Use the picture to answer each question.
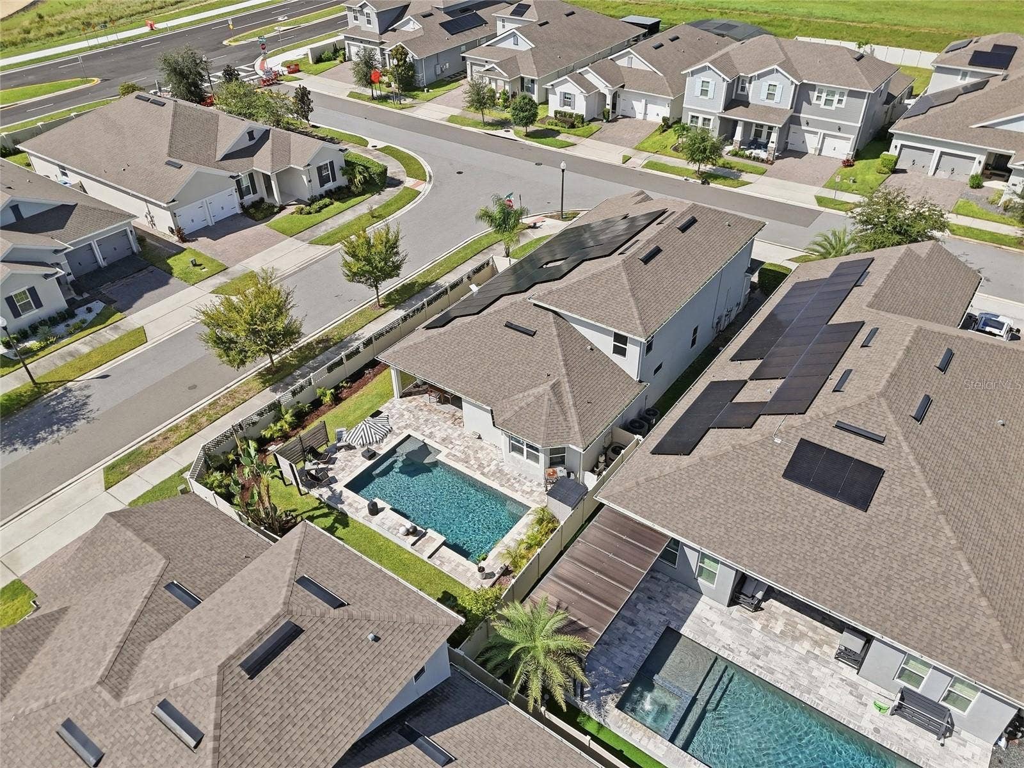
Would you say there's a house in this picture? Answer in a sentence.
Yes, looking at the shot, I can spot a house.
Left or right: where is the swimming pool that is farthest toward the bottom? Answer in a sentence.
It is on the right.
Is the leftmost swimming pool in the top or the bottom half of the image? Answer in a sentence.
The leftmost swimming pool sits in the bottom half of the picture.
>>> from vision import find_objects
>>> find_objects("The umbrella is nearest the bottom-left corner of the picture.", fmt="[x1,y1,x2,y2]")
[343,419,391,459]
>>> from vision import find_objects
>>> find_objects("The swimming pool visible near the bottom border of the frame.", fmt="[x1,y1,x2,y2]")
[606,619,938,768]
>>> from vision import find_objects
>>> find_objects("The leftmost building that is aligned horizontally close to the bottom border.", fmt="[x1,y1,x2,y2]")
[0,484,604,768]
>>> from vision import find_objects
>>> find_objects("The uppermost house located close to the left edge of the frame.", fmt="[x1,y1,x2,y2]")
[14,92,351,232]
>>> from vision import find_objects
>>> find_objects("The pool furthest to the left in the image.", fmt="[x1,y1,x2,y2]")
[287,429,540,598]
